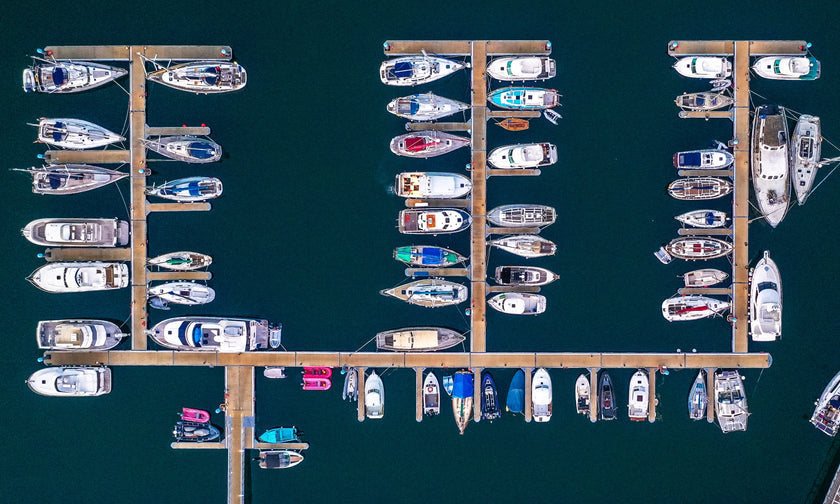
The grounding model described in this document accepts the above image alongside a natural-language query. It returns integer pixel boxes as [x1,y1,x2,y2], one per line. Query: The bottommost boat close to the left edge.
[20,364,116,396]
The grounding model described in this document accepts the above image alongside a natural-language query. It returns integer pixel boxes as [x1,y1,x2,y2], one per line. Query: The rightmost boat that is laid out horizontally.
[750,54,820,83]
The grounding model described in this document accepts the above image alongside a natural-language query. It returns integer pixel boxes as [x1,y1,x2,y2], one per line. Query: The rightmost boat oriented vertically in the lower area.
[809,369,840,437]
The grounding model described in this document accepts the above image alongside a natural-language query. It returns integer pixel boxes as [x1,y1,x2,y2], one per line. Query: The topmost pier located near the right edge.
[667,40,809,57]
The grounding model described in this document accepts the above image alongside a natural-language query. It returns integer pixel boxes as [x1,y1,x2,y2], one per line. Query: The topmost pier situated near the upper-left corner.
[46,45,232,62]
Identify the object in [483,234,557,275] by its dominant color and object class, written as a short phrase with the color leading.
white boat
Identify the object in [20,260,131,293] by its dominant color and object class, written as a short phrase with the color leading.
white boat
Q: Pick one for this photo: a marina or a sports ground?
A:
marina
